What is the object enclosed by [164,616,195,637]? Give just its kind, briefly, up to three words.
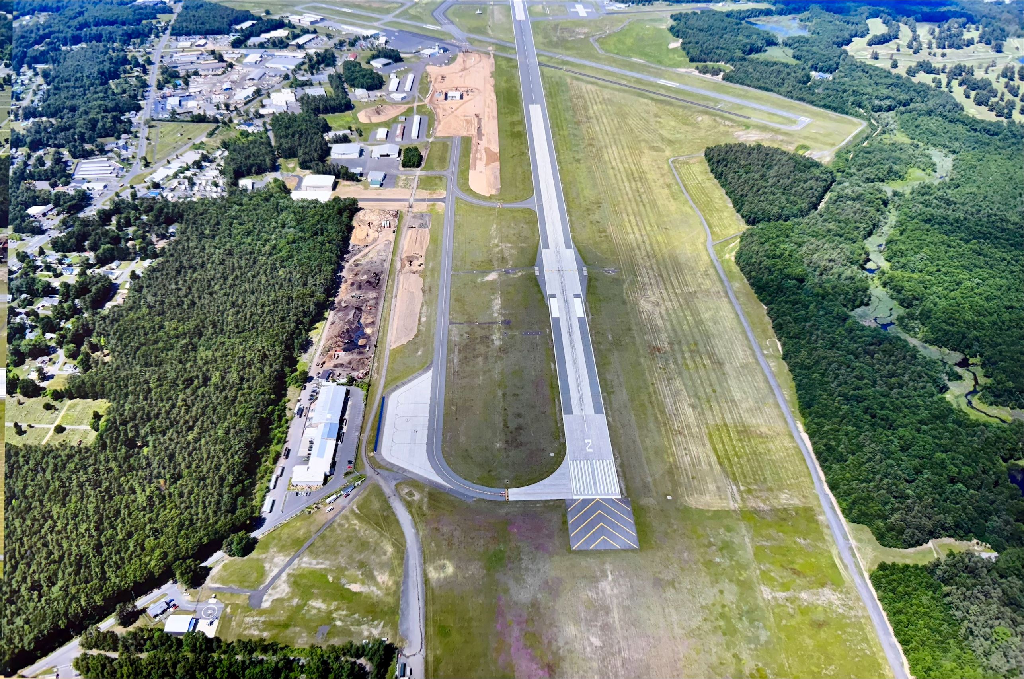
hangar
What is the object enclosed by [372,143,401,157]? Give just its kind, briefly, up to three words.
hangar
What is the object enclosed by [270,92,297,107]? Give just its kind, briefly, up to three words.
building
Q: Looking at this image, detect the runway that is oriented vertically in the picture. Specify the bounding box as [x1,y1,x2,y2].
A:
[510,0,621,498]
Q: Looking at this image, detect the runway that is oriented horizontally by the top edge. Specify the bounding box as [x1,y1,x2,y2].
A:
[315,3,805,121]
